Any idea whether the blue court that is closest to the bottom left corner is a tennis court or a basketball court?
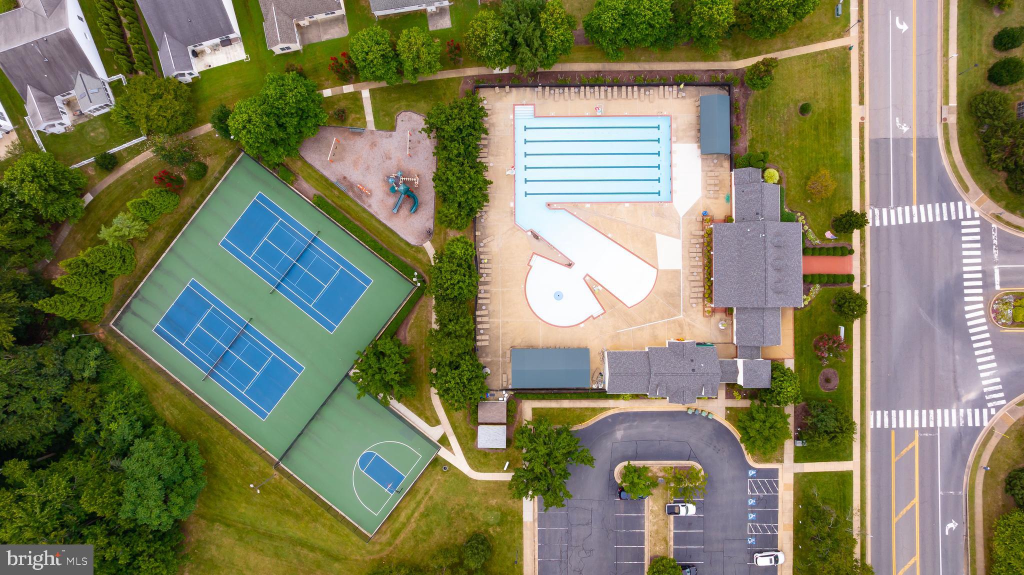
tennis court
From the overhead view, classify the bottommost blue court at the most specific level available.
basketball court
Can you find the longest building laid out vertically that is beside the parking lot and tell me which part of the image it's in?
right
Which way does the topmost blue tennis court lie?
diagonally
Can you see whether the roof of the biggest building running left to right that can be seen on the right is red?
No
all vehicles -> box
[619,487,648,502]
[673,566,701,575]
[666,503,697,519]
[755,553,785,568]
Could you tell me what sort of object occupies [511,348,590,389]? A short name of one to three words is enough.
building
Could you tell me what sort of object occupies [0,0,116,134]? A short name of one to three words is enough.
house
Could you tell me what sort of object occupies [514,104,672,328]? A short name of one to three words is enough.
swimming pool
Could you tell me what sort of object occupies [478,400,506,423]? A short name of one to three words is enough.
shed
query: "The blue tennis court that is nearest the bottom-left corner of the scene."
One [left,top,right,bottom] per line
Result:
[152,279,305,421]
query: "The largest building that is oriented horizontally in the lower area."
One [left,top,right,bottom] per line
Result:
[606,342,740,404]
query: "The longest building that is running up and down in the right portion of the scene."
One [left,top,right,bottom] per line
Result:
[709,168,803,360]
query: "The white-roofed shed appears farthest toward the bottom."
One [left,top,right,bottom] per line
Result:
[478,424,506,448]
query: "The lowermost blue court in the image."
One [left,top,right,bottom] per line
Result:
[353,441,422,515]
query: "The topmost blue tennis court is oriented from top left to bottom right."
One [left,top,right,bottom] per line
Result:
[220,192,373,331]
